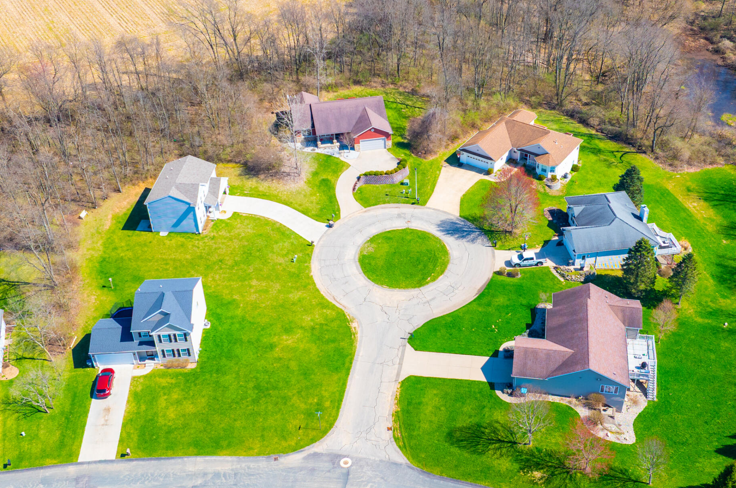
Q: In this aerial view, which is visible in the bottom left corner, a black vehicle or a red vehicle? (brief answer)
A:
red vehicle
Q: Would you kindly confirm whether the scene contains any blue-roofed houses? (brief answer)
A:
Yes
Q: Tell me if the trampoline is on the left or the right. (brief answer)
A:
left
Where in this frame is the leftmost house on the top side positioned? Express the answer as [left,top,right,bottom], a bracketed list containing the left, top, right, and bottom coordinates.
[137,154,227,236]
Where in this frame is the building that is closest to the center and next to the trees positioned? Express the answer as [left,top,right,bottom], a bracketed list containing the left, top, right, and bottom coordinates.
[289,91,392,151]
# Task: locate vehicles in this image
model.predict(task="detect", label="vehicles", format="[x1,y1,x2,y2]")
[93,368,113,397]
[509,250,549,268]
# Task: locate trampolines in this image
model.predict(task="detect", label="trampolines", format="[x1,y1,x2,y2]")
[108,298,133,318]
